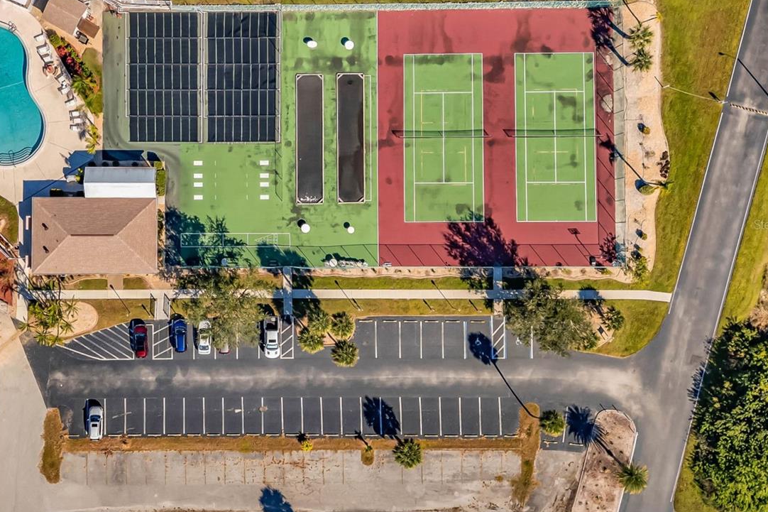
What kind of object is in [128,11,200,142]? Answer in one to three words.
solar array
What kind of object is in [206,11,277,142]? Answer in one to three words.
solar array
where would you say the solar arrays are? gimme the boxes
[206,11,277,142]
[128,11,200,142]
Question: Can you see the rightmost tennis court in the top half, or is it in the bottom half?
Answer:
top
